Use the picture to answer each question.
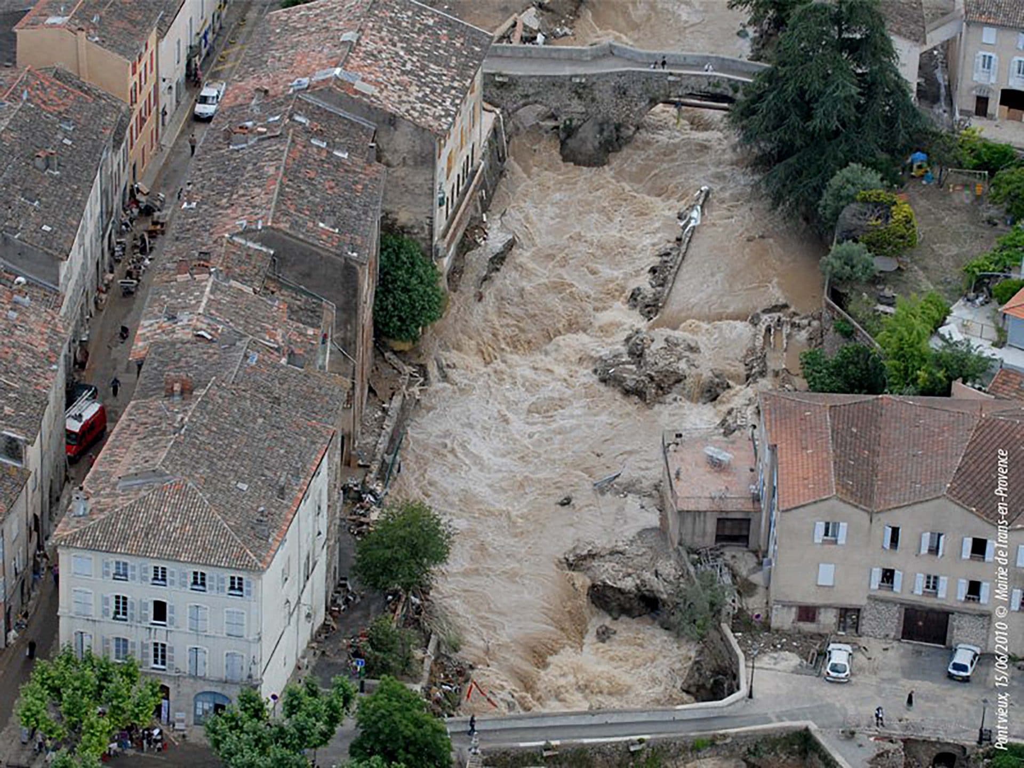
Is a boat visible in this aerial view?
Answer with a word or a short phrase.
No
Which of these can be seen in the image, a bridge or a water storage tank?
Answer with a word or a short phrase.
bridge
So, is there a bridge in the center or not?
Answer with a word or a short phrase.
No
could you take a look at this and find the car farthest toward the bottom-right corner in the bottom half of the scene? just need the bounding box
[944,644,984,692]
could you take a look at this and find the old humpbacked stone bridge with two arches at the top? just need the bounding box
[489,38,791,141]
